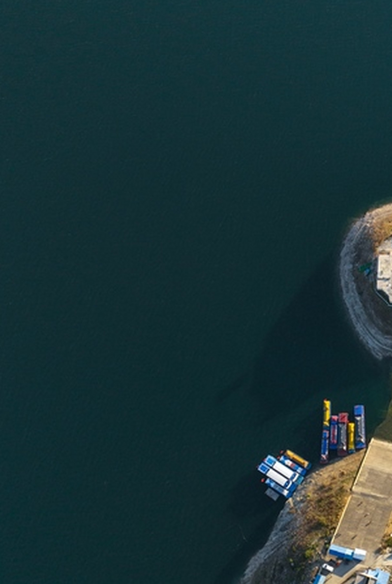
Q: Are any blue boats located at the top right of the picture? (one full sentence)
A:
No, I can find no blue boat at the top right of the picture.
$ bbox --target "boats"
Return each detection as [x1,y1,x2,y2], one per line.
[258,463,298,491]
[354,405,366,447]
[282,448,311,468]
[330,414,338,449]
[321,430,329,463]
[278,456,307,476]
[264,454,306,484]
[338,412,348,456]
[322,397,330,430]
[263,479,290,499]
[348,422,355,453]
